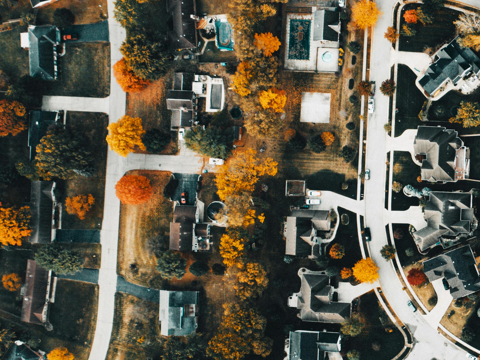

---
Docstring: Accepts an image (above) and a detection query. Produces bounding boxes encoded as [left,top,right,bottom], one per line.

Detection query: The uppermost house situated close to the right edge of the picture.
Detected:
[418,36,480,95]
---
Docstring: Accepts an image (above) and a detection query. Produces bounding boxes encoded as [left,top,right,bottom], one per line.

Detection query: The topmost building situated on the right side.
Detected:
[314,7,342,43]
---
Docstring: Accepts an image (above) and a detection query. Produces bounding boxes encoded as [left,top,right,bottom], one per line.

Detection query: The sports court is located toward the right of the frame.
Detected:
[300,92,330,122]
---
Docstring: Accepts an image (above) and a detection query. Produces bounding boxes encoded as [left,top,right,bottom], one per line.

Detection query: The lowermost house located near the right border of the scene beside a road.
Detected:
[419,235,480,296]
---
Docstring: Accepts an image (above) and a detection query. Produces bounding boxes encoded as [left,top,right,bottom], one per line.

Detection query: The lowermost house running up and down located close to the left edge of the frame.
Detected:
[20,258,51,325]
